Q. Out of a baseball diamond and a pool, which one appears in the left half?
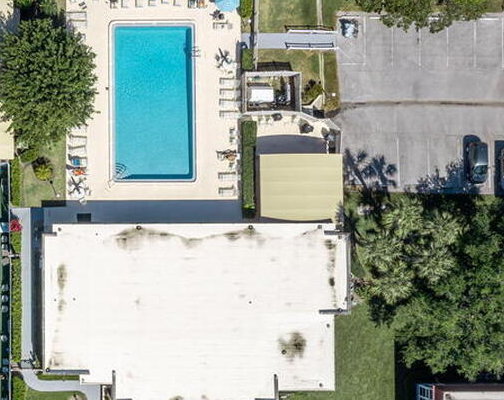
pool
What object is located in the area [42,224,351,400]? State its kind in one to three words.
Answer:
building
